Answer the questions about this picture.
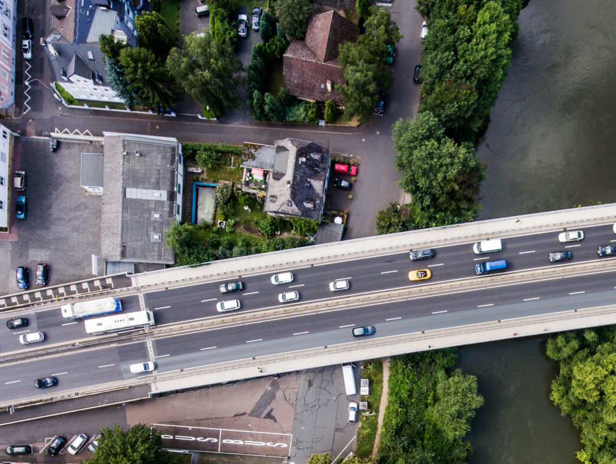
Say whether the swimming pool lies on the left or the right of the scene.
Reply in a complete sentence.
The swimming pool sits on the left side.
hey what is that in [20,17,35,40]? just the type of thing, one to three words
car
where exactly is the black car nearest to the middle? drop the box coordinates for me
[334,177,352,190]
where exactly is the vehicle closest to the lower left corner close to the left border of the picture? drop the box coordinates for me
[5,443,33,456]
